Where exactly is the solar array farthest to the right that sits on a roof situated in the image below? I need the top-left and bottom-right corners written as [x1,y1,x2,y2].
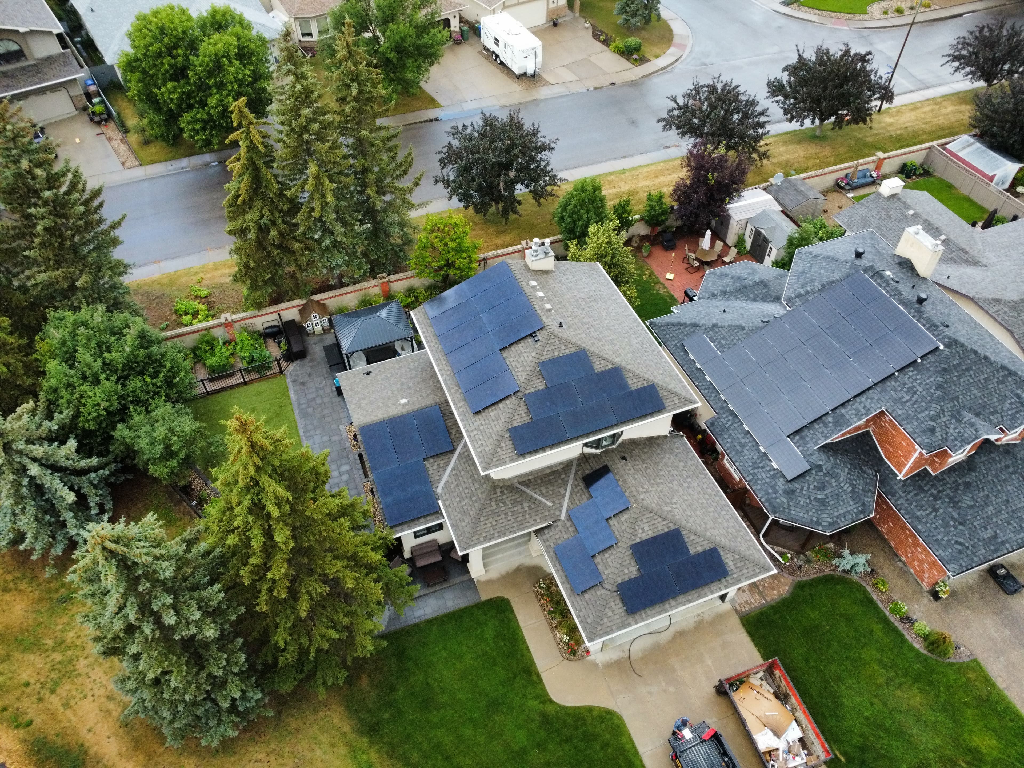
[684,270,939,480]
